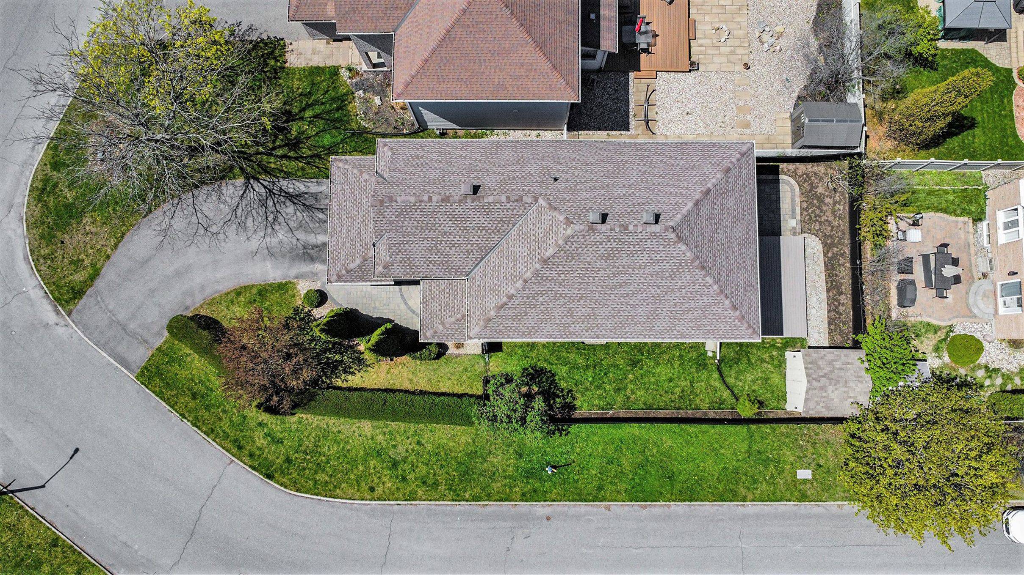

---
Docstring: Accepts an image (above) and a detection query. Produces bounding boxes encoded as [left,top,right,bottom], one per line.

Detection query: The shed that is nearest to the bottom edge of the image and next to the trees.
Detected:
[786,349,875,417]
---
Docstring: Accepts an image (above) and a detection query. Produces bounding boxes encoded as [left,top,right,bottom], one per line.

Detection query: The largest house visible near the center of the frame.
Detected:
[325,138,763,360]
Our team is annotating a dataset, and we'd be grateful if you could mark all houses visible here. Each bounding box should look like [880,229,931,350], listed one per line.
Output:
[286,0,619,129]
[987,177,1024,338]
[325,138,763,360]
